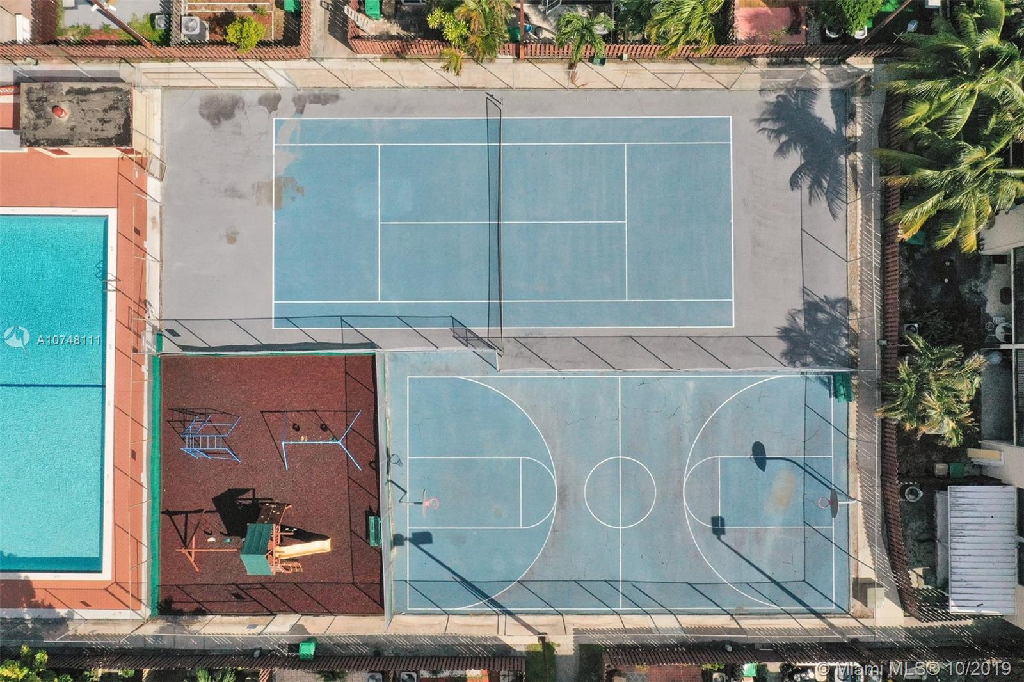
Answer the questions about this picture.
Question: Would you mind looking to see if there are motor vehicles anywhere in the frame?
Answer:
No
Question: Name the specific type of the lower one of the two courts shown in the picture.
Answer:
basketball court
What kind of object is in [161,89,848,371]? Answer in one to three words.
tennis court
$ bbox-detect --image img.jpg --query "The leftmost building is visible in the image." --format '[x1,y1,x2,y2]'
[21,82,154,159]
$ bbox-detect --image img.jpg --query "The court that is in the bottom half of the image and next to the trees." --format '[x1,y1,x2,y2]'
[389,354,849,613]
